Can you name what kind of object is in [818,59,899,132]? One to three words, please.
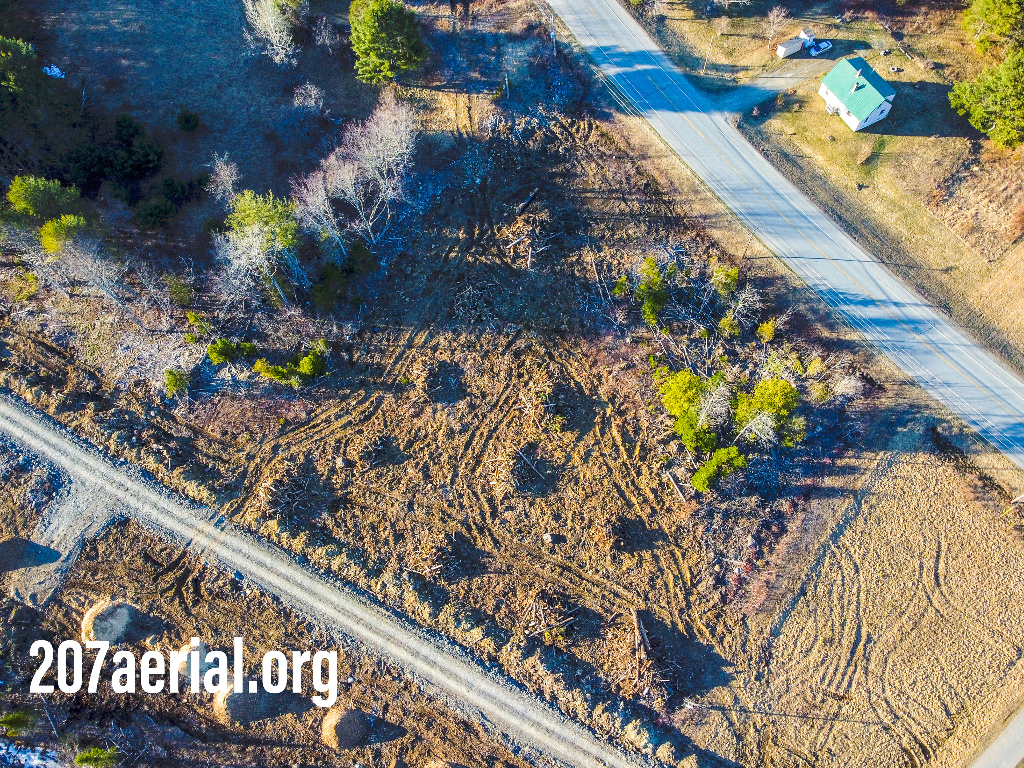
house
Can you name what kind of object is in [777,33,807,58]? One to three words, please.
shed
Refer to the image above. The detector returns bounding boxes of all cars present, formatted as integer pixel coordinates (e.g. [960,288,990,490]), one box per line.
[810,40,836,56]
